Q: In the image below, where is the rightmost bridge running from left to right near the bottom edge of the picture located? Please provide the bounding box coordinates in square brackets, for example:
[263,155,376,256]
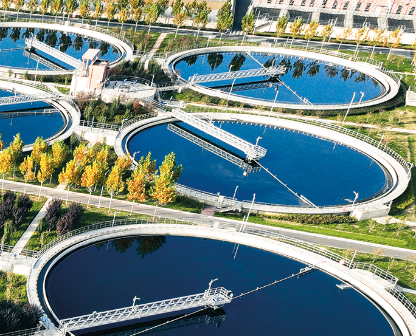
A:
[46,285,239,336]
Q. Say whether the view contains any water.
Yes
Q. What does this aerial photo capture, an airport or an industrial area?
industrial area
